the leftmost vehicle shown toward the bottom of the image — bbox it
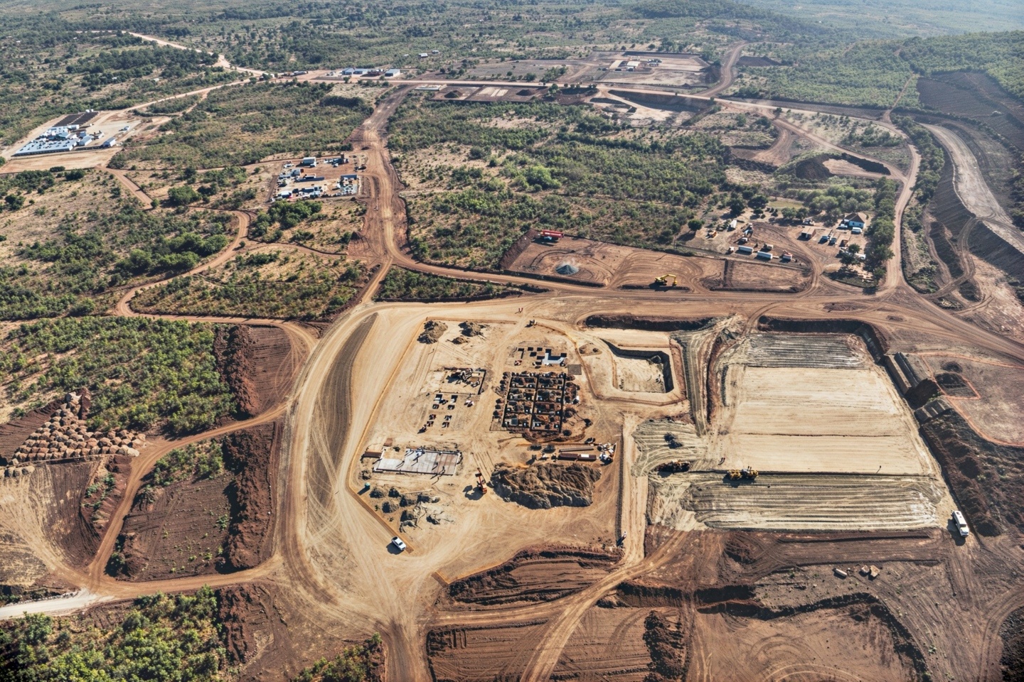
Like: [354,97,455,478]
[389,535,409,553]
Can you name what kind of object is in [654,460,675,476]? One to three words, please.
vehicle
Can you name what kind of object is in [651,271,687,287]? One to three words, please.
work vehicle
